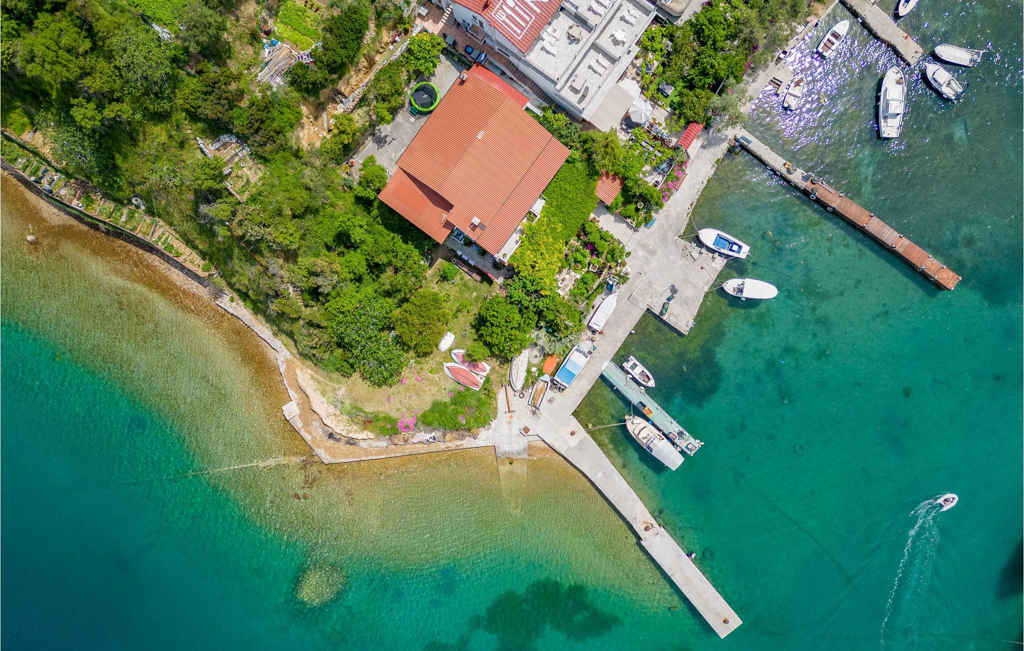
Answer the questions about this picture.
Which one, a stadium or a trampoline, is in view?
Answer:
trampoline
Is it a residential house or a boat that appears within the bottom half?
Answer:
boat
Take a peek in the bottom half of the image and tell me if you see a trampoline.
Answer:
No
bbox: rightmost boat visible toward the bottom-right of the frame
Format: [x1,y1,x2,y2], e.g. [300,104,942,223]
[935,495,958,512]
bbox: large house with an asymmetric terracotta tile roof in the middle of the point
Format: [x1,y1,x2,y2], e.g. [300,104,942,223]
[380,64,570,265]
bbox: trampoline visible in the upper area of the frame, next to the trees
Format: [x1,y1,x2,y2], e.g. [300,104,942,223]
[407,74,440,115]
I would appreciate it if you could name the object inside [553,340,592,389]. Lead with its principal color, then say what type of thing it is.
white boat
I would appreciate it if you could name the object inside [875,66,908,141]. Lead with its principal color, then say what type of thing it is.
white boat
